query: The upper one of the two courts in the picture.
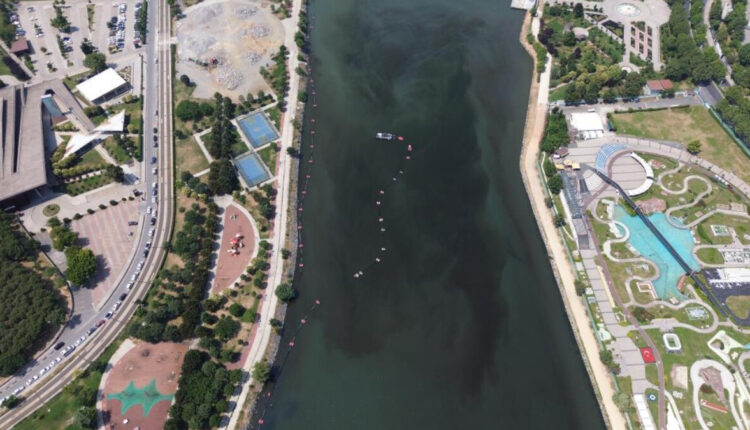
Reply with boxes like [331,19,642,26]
[234,105,281,149]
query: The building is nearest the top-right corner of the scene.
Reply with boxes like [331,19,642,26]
[645,79,673,96]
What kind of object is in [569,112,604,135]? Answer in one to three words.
building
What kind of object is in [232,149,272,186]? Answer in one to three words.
tennis court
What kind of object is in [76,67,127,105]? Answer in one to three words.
building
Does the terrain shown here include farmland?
No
